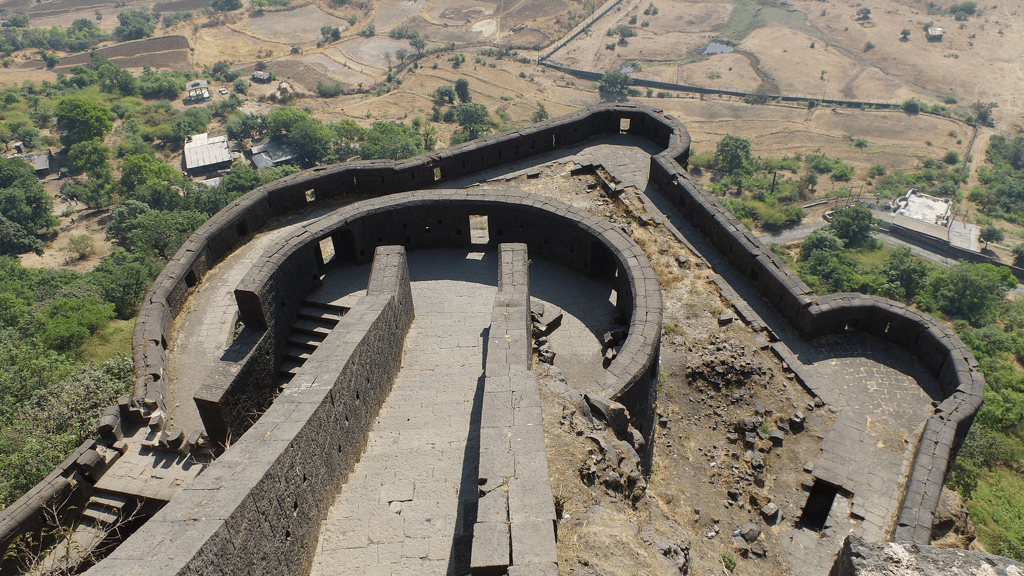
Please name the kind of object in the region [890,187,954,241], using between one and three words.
house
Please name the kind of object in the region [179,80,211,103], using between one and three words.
building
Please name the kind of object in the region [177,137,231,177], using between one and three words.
house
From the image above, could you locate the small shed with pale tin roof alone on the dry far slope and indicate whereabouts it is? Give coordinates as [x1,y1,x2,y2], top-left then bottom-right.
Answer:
[921,26,946,42]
